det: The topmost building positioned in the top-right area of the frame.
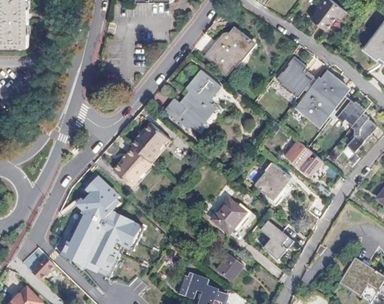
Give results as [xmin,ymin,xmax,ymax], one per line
[311,0,348,33]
